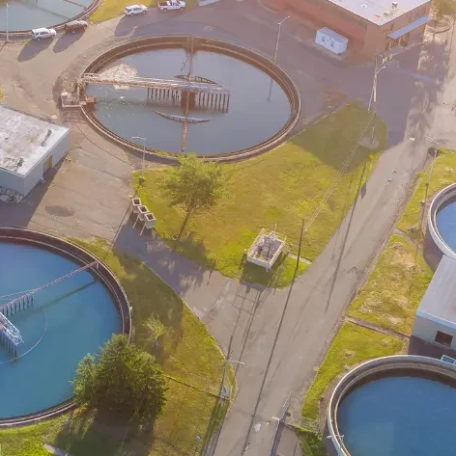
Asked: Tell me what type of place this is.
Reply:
industrial area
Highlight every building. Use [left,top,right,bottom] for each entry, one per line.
[0,104,71,194]
[411,255,456,349]
[284,0,436,60]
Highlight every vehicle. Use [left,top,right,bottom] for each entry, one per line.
[157,0,186,10]
[64,17,91,32]
[31,26,57,41]
[123,2,150,16]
